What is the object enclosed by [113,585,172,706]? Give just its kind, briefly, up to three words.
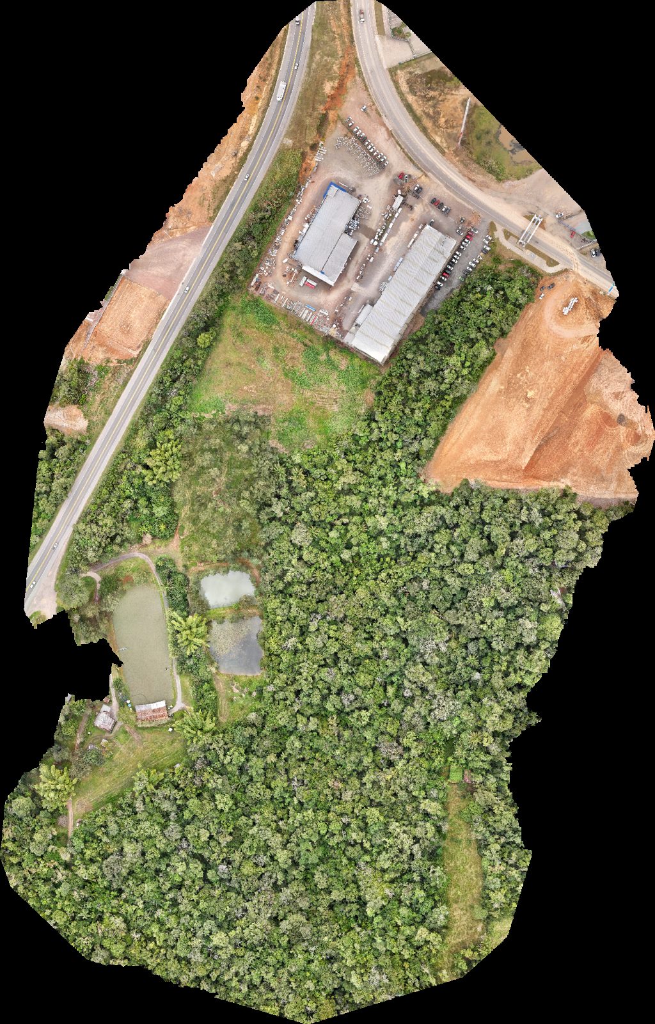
pond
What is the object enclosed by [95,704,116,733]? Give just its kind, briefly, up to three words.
house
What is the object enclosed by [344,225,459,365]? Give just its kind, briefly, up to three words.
building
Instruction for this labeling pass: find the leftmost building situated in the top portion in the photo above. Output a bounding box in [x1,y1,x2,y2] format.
[293,181,361,286]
